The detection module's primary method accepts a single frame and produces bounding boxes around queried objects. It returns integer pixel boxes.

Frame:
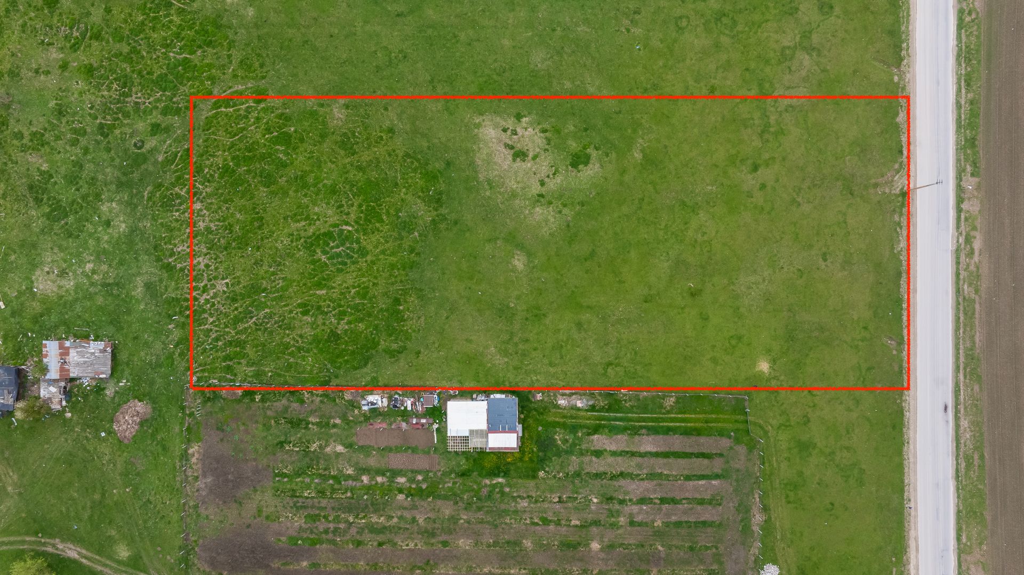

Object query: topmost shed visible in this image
[41,341,114,379]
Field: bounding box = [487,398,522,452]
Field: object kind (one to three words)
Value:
house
